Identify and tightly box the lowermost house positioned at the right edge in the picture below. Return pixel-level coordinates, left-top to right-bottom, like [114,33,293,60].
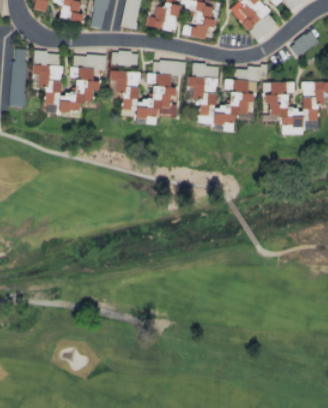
[262,80,322,127]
